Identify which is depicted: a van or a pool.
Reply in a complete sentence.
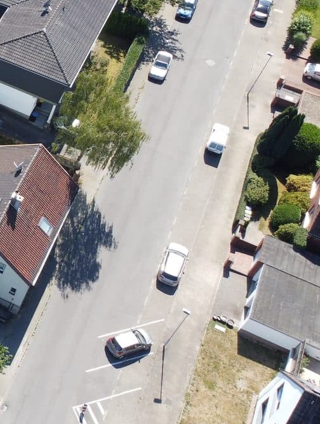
The one in the frame is a van.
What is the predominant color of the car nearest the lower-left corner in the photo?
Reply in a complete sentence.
The color of the car nearest the lower-left corner is white.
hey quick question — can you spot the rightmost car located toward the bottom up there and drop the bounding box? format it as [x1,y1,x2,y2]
[158,240,192,286]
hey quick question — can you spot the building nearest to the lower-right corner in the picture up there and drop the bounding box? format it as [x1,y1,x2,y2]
[251,365,320,424]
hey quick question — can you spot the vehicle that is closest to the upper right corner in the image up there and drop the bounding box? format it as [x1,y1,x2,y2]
[251,0,277,21]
